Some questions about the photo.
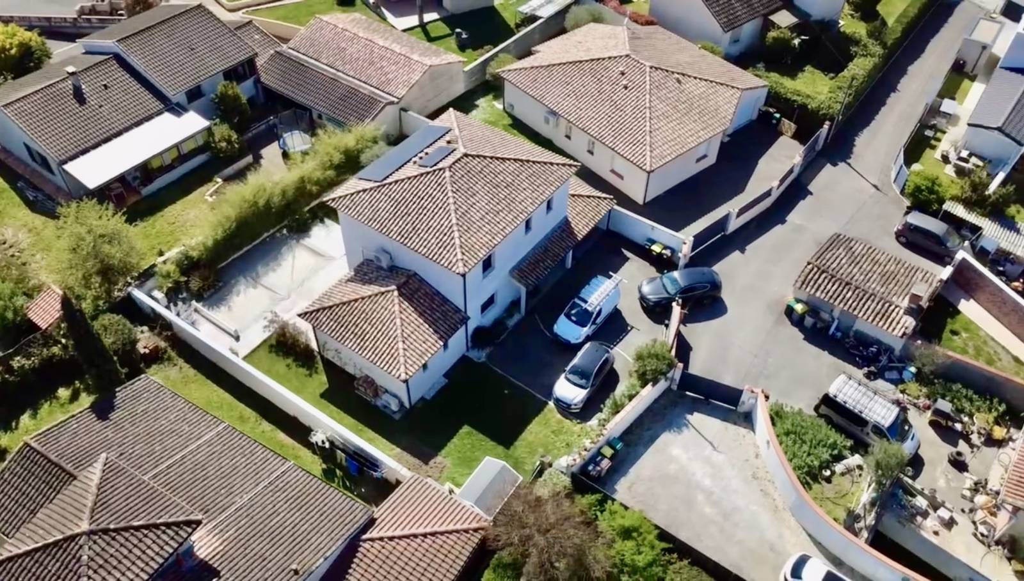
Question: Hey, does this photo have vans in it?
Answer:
Yes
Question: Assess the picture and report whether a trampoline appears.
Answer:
Yes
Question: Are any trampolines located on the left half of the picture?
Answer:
Yes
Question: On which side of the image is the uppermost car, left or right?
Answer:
right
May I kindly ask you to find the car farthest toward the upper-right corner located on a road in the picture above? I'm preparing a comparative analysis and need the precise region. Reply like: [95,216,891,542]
[893,212,962,255]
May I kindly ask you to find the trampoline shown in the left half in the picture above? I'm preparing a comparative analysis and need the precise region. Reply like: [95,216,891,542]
[270,108,313,155]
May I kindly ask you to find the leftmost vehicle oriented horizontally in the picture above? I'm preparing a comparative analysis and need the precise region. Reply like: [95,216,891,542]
[636,270,722,313]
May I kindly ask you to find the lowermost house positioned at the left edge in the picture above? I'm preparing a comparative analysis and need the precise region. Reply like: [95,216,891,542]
[0,373,373,581]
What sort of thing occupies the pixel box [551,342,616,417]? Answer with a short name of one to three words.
car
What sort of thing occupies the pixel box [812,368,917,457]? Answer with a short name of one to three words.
van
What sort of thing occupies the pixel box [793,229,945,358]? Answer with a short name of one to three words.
shed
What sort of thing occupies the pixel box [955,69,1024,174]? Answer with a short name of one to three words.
house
